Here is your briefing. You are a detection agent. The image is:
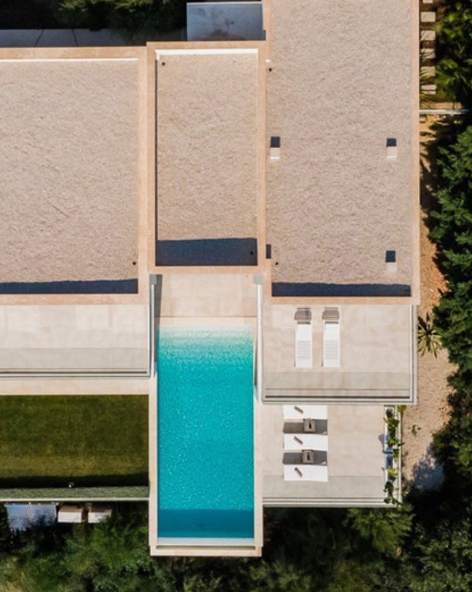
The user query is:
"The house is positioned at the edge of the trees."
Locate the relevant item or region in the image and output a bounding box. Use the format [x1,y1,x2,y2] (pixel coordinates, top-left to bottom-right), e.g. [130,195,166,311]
[0,0,420,303]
